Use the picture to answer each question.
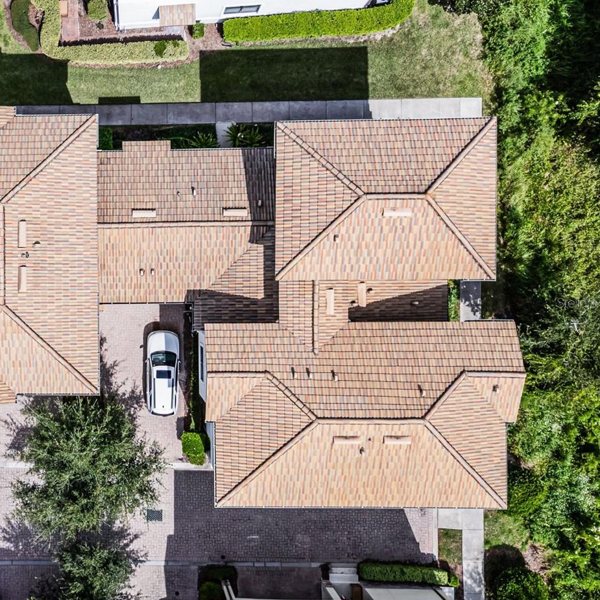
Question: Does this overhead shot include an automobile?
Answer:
Yes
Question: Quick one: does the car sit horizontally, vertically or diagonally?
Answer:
vertically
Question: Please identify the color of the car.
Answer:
white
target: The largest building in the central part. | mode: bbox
[101,117,526,510]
